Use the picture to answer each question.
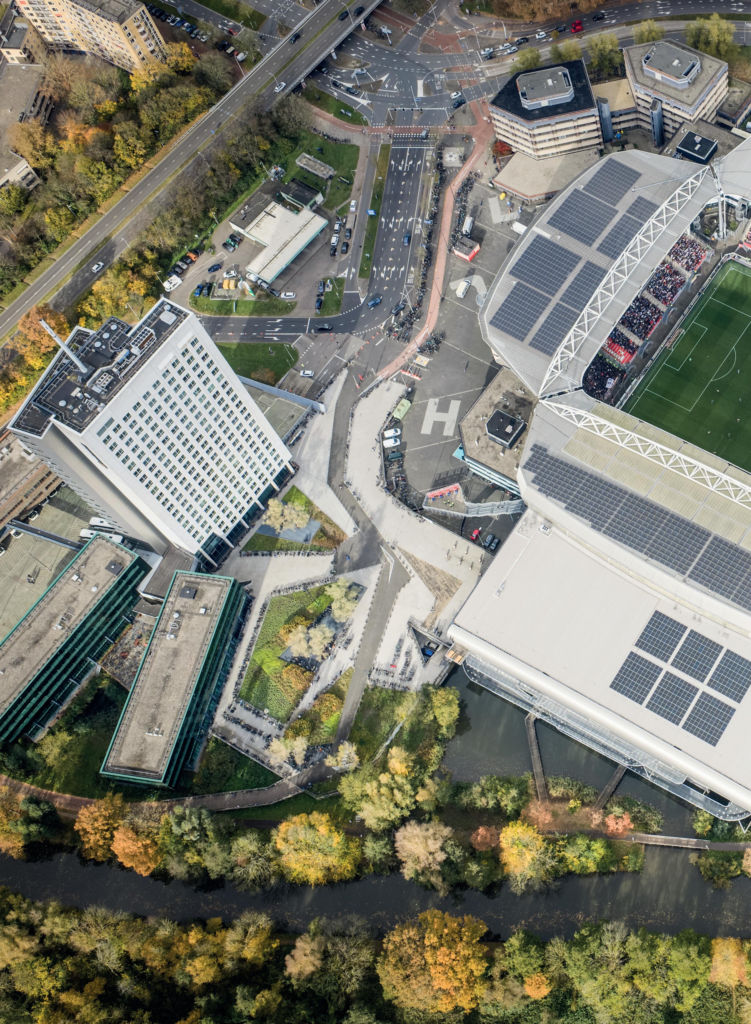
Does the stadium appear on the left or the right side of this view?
right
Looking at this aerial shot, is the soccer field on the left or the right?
right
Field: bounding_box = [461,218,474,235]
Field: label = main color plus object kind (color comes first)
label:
white vehicle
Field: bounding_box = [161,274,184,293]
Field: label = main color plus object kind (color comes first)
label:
white camper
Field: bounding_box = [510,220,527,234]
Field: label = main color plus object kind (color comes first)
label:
white vehicle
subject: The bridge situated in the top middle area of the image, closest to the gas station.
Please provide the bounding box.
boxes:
[218,0,388,122]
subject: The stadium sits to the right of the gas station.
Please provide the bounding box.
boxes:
[480,136,751,636]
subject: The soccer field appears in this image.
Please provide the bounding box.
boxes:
[620,261,751,477]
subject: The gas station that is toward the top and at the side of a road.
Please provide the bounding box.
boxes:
[228,192,330,284]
